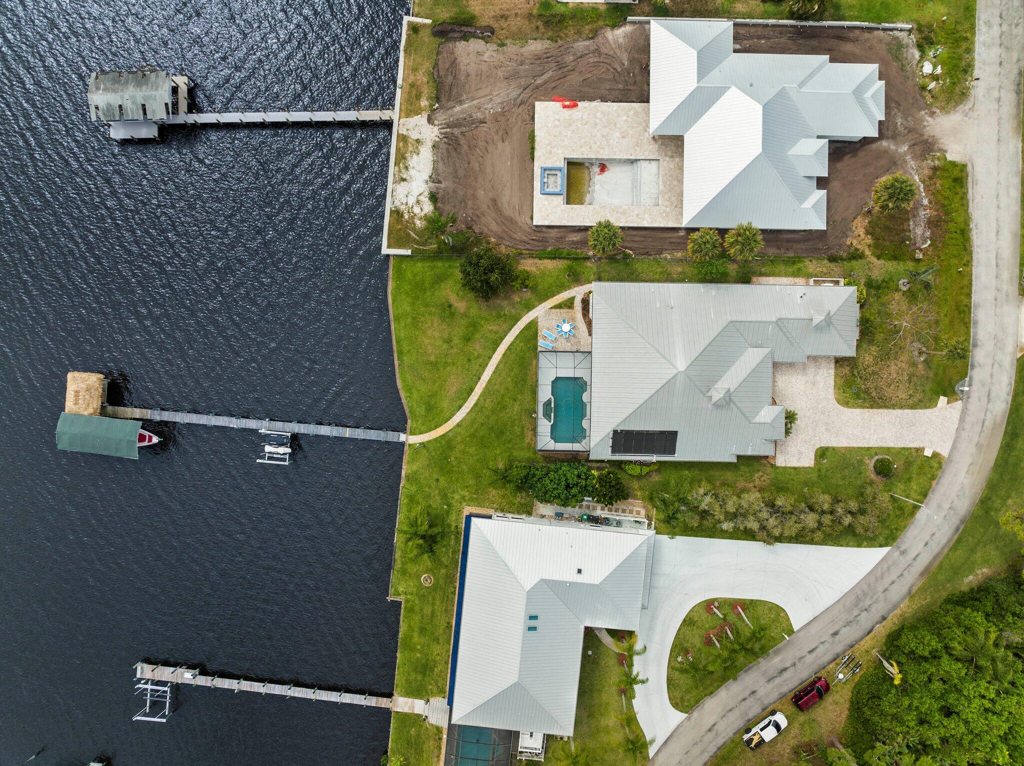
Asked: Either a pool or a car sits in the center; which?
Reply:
pool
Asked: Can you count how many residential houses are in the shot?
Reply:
3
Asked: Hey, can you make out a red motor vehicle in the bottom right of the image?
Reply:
Yes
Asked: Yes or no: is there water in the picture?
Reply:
Yes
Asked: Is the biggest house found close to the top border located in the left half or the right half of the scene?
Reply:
right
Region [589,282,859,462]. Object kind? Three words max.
house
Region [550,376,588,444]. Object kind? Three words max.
swimming pool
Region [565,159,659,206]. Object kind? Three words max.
swimming pool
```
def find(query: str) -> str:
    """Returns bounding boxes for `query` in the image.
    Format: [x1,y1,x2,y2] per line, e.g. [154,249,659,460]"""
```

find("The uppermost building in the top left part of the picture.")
[87,70,183,133]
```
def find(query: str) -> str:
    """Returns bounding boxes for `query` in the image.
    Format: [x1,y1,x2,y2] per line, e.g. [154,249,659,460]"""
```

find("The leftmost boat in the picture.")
[137,429,162,446]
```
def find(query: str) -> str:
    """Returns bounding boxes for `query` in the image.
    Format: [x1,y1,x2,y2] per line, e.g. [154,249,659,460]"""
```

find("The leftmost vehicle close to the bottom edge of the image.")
[741,711,786,751]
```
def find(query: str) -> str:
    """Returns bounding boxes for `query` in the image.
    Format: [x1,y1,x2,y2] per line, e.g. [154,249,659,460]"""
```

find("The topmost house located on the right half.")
[649,19,886,231]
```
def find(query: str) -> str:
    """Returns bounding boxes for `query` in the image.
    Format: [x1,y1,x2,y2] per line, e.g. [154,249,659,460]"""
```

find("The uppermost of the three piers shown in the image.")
[102,73,395,143]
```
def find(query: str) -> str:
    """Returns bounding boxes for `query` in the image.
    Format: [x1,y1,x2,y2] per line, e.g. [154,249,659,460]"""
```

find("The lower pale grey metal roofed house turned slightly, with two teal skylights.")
[451,515,656,738]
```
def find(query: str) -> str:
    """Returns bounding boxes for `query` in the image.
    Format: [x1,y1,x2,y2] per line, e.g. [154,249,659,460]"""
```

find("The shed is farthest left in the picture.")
[64,370,118,417]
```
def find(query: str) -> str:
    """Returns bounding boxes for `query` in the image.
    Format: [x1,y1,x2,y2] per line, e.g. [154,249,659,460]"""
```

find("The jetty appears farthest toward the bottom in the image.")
[132,657,430,719]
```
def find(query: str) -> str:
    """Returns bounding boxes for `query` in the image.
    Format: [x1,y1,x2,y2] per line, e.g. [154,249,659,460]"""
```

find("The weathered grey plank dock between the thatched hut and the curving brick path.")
[102,405,406,445]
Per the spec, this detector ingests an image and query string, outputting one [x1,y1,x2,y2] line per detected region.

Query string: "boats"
[266,435,291,443]
[137,429,162,446]
[265,445,291,454]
